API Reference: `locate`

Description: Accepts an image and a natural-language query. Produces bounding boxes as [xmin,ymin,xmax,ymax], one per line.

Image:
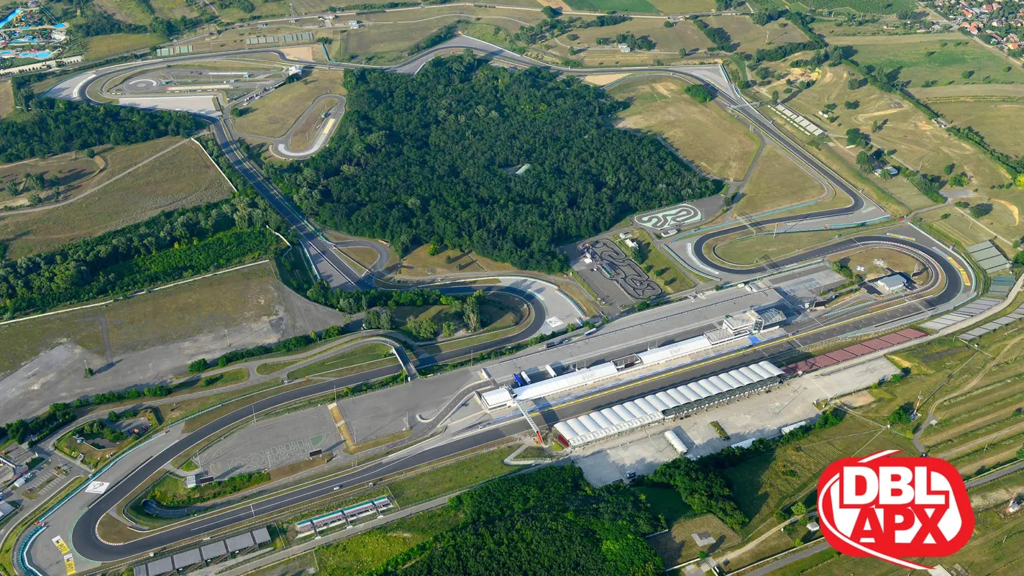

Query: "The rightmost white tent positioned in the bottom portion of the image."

[662,430,689,456]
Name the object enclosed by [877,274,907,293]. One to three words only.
building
